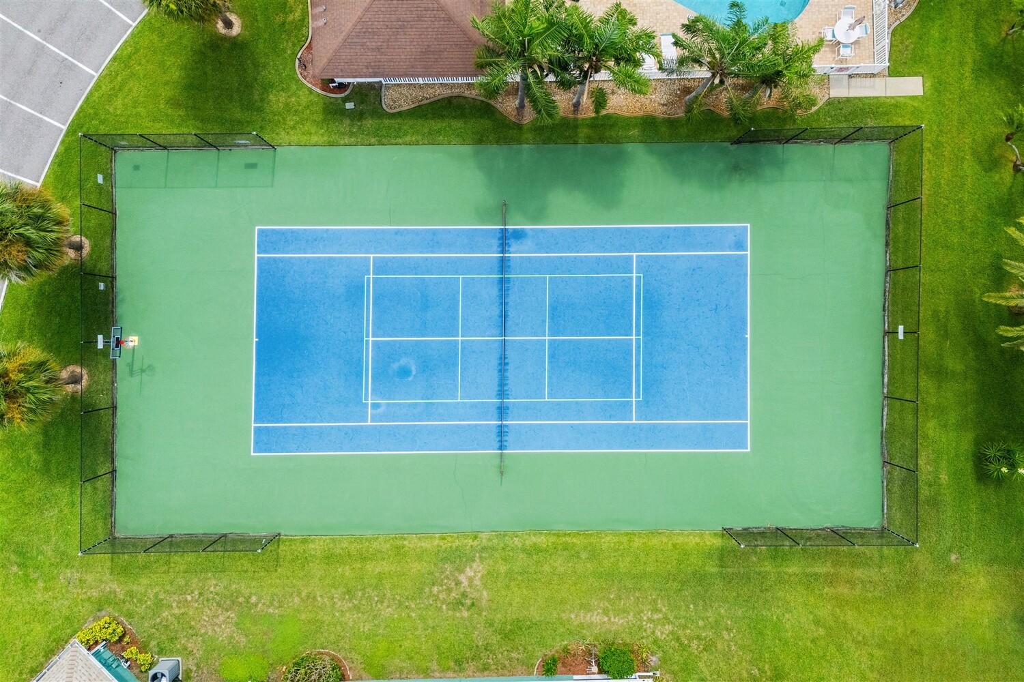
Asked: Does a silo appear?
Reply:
No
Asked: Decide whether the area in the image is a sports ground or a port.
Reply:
sports ground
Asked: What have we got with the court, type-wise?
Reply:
tennis court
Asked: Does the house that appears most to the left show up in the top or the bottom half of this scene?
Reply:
bottom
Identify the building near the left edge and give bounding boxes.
[33,641,116,682]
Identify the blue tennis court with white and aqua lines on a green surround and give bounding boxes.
[111,140,893,539]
